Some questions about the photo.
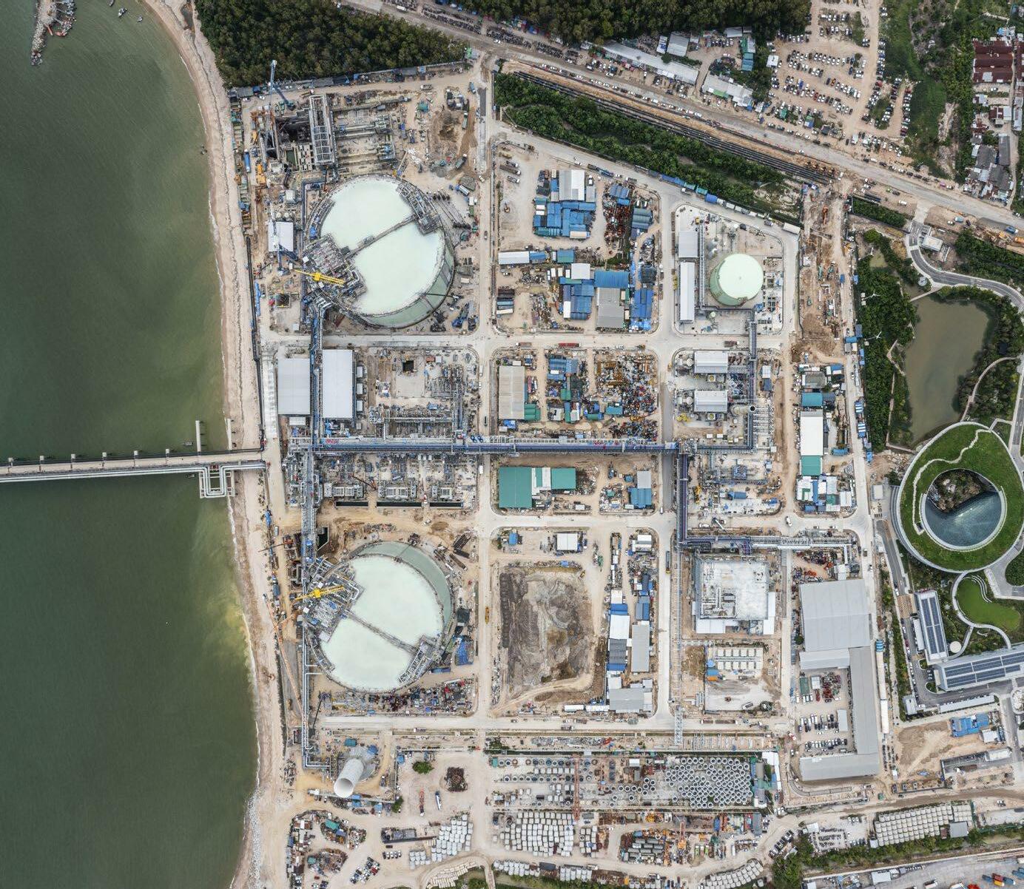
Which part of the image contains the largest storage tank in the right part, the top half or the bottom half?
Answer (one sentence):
The largest storage tank in the right part is in the top half of the image.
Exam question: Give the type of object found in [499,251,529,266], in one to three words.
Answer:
shed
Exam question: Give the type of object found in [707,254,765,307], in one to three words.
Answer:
storage tank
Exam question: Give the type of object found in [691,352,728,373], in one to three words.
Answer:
building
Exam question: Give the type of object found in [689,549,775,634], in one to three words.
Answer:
building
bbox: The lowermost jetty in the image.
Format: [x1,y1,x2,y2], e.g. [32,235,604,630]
[0,448,276,498]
